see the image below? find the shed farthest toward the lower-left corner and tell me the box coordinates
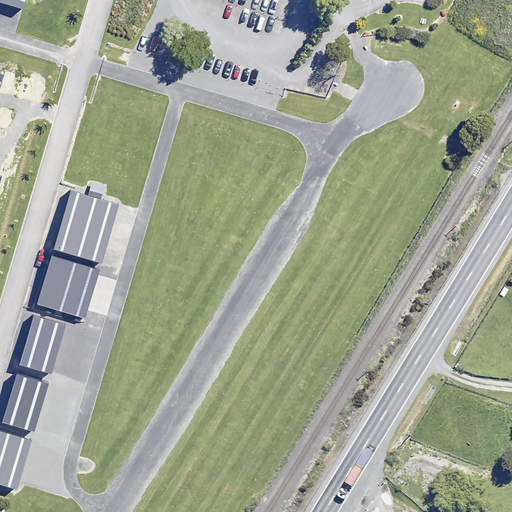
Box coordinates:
[0,429,32,490]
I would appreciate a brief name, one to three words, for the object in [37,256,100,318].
shed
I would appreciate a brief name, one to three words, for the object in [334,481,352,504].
vehicle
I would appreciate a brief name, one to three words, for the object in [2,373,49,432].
shed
